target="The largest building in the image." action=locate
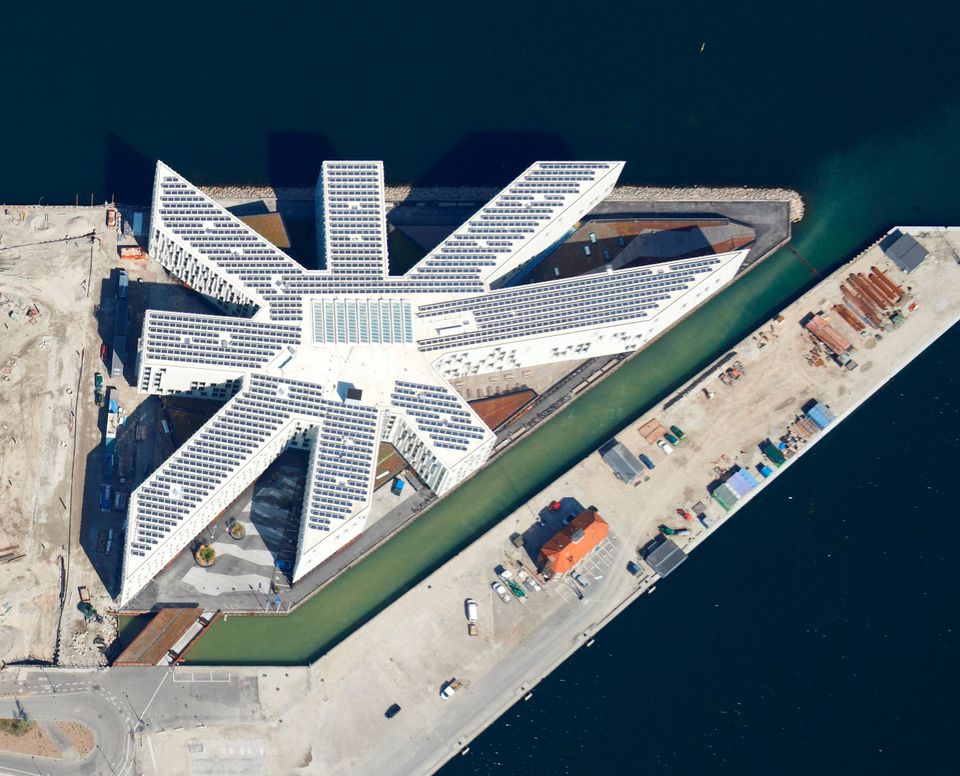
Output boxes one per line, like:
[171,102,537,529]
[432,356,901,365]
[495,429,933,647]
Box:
[119,160,755,605]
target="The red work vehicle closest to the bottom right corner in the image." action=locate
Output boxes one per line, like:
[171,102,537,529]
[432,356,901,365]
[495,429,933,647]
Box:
[680,508,697,525]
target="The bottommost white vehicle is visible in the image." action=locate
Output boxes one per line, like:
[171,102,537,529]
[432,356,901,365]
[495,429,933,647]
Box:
[441,679,461,696]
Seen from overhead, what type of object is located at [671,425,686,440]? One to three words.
car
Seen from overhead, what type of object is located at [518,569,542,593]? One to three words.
truck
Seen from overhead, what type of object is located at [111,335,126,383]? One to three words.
building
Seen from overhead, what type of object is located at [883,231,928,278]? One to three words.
shed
